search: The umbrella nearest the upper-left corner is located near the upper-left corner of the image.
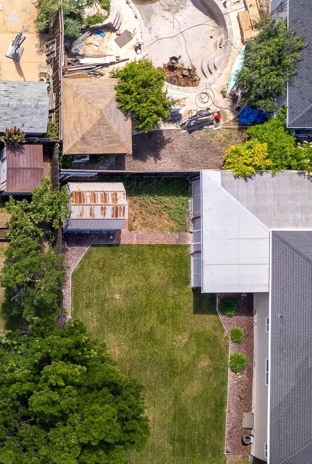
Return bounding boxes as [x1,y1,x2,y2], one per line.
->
[6,36,26,60]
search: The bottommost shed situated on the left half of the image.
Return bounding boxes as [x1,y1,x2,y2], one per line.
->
[61,183,127,231]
